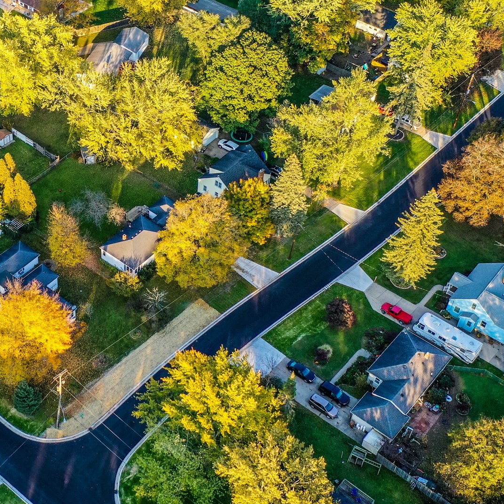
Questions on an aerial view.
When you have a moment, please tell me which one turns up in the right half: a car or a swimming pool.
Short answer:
car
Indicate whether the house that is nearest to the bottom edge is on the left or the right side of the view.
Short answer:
right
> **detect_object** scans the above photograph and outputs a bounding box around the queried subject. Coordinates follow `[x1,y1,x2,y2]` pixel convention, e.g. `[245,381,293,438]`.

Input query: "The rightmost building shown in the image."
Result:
[445,262,504,344]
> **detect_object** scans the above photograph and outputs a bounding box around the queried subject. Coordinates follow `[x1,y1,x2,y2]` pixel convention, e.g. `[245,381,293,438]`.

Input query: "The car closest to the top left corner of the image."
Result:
[217,141,240,153]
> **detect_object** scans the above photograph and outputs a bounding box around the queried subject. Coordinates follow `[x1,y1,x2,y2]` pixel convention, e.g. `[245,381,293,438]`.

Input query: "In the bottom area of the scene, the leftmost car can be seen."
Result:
[286,362,316,384]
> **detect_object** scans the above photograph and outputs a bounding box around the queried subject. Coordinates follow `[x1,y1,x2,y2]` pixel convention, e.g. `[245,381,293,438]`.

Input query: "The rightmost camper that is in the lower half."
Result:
[416,316,484,362]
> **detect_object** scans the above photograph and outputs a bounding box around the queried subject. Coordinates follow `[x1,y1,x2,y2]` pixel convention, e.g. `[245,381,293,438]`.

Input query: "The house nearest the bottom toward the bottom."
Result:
[349,337,473,443]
